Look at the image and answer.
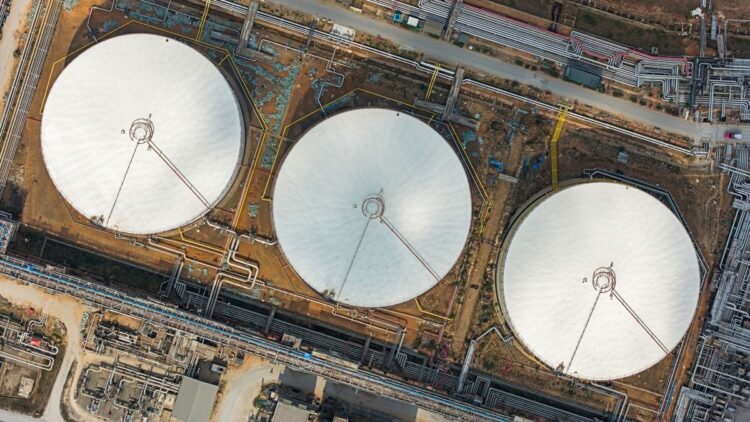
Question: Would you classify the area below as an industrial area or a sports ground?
industrial area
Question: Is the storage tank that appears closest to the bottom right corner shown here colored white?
Yes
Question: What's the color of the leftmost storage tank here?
white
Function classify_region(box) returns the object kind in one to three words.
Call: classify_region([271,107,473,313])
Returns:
storage tank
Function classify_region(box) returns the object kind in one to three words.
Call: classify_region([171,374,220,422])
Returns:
building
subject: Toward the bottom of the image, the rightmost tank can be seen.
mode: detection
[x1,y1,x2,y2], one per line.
[492,181,701,392]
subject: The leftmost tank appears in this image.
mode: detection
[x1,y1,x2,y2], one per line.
[40,31,255,238]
